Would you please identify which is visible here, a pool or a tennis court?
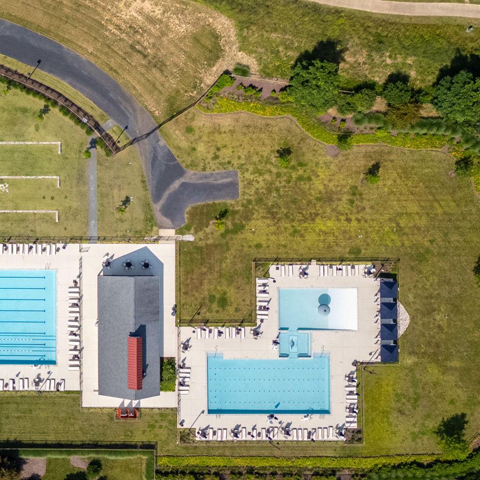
pool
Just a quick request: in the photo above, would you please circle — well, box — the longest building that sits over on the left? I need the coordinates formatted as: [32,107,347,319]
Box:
[96,274,160,400]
